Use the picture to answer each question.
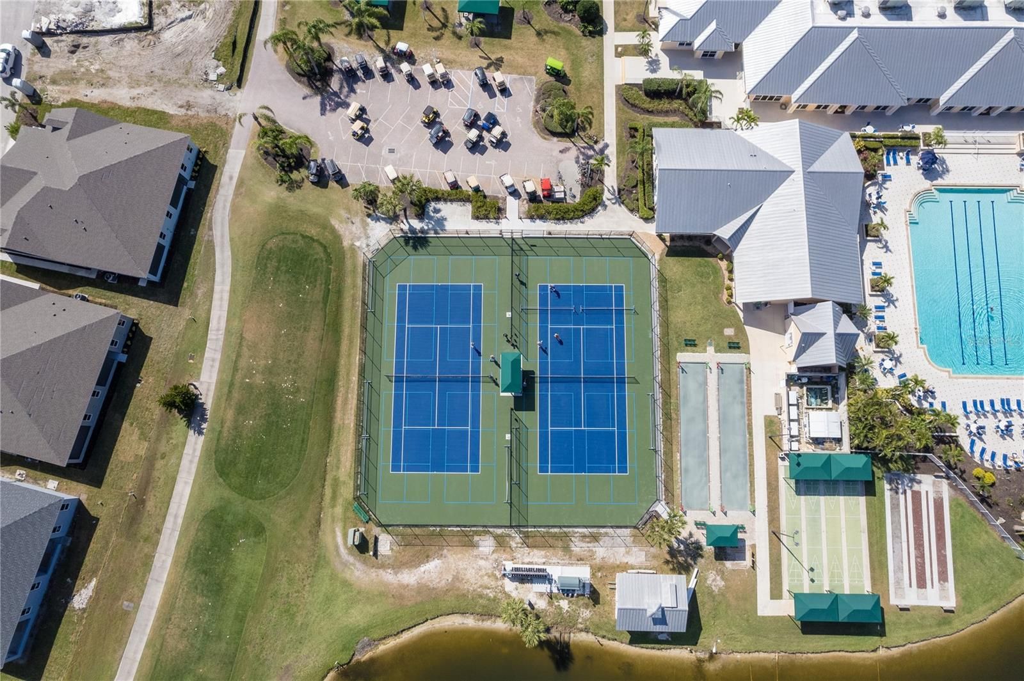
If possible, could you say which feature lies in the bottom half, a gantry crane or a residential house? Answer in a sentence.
You can see a residential house in the bottom half.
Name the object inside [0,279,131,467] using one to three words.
house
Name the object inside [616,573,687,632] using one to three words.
shed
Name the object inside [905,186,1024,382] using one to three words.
swimming pool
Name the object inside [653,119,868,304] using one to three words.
building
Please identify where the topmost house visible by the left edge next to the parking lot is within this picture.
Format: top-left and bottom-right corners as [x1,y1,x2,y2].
[0,107,199,282]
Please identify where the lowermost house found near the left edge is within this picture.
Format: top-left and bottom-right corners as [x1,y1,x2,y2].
[0,478,79,671]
